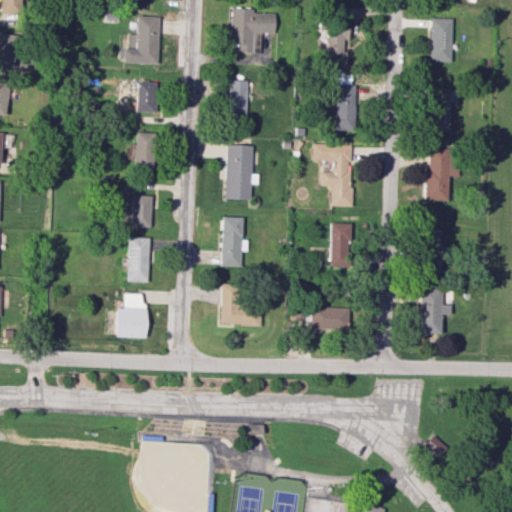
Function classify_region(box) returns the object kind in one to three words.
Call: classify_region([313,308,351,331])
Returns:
house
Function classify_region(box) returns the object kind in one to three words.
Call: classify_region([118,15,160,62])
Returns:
house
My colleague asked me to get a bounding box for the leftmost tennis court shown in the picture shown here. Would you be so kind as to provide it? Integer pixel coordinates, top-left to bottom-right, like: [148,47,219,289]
[232,474,271,512]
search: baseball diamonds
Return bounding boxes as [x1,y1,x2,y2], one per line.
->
[0,442,212,512]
